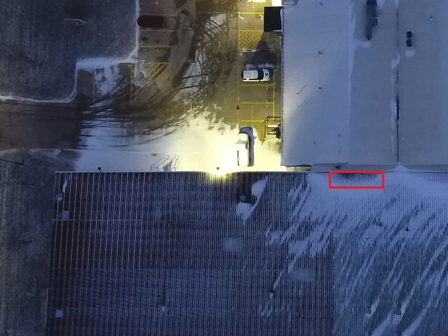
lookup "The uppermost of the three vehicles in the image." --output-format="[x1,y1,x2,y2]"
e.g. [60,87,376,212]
[138,14,167,30]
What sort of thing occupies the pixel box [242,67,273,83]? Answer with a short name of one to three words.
car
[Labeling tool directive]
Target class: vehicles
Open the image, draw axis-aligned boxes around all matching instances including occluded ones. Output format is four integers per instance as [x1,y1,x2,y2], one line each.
[242,67,273,83]
[237,132,251,167]
[138,14,167,30]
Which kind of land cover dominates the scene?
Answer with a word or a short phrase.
buildings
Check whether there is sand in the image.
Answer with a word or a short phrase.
No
